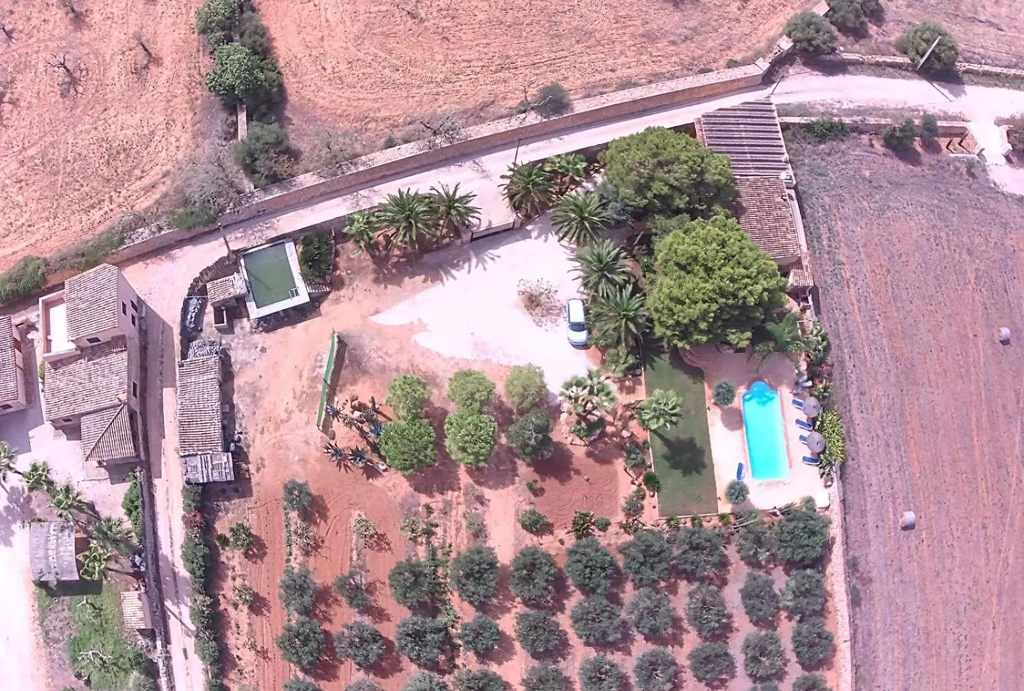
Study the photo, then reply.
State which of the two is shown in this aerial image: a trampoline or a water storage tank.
water storage tank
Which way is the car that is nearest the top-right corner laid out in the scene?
from top to bottom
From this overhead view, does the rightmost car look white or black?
white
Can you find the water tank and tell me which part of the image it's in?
left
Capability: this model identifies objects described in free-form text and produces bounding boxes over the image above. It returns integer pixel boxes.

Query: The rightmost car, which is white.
[566,300,591,349]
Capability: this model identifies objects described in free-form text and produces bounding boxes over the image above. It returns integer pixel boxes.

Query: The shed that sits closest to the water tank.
[206,271,247,307]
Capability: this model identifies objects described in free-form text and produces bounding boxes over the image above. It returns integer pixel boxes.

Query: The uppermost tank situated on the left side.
[239,237,312,325]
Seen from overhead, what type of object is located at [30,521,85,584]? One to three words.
shed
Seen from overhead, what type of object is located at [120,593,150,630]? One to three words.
shed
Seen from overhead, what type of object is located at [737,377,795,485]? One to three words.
swimming pool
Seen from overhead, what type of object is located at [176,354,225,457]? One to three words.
barn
